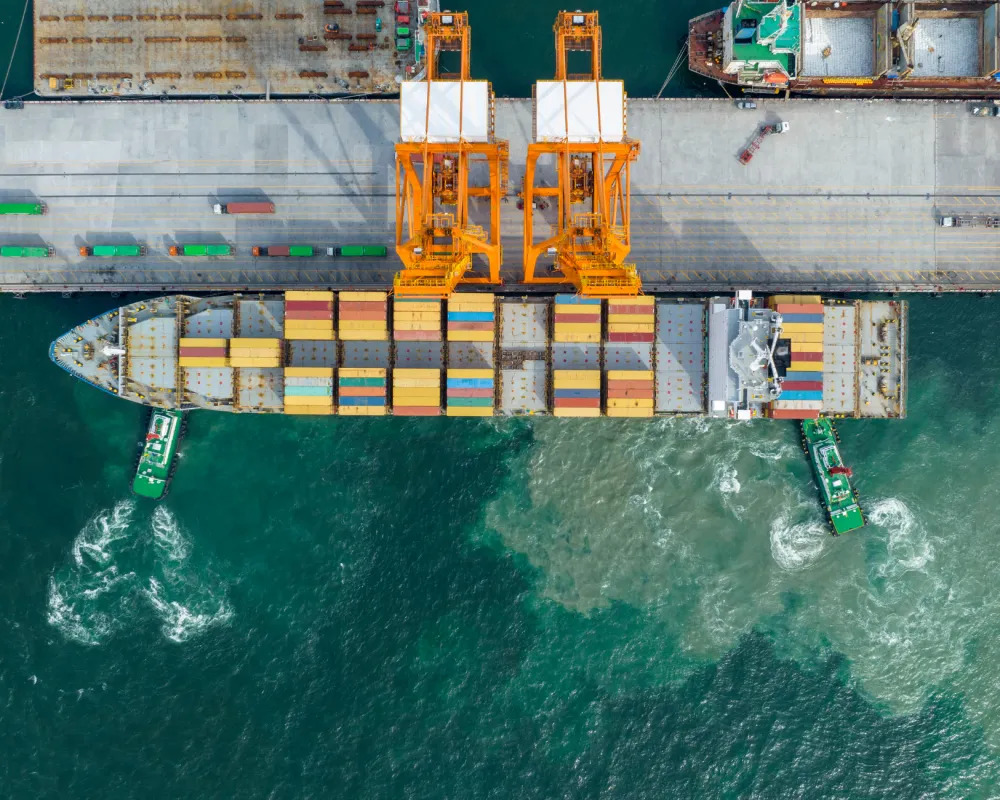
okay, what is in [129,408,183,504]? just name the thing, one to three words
boat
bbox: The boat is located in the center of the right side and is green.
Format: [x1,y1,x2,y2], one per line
[802,420,868,538]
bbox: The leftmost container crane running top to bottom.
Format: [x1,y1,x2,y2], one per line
[383,10,510,308]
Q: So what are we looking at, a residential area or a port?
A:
port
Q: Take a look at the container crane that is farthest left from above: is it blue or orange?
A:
orange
